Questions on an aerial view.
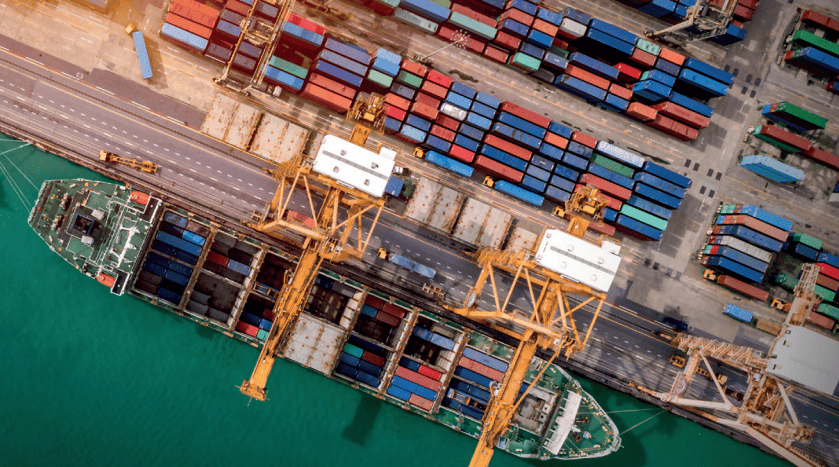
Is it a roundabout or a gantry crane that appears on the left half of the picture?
gantry crane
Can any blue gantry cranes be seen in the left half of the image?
No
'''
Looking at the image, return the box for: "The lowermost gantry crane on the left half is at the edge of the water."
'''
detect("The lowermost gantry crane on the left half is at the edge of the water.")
[238,89,398,406]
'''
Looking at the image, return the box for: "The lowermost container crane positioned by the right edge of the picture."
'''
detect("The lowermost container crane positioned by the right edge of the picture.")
[640,261,839,467]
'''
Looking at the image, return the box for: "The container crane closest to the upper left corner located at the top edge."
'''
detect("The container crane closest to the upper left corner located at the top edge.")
[210,0,290,97]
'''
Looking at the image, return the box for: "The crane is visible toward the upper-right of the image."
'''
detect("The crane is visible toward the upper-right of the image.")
[644,0,741,50]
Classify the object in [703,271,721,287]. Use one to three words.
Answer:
vehicle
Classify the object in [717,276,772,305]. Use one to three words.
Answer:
shipping container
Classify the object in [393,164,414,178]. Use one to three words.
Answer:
vehicle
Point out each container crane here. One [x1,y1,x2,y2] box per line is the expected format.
[238,89,398,406]
[644,0,741,50]
[640,261,839,467]
[210,0,290,97]
[438,180,620,467]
